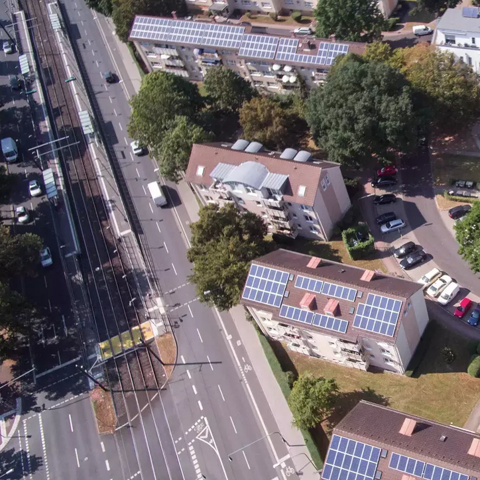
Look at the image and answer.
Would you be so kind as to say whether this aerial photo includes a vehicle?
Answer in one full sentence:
Yes, there's a vehicle here.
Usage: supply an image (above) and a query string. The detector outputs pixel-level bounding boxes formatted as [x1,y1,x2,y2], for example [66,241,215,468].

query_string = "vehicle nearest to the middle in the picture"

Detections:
[146,179,168,207]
